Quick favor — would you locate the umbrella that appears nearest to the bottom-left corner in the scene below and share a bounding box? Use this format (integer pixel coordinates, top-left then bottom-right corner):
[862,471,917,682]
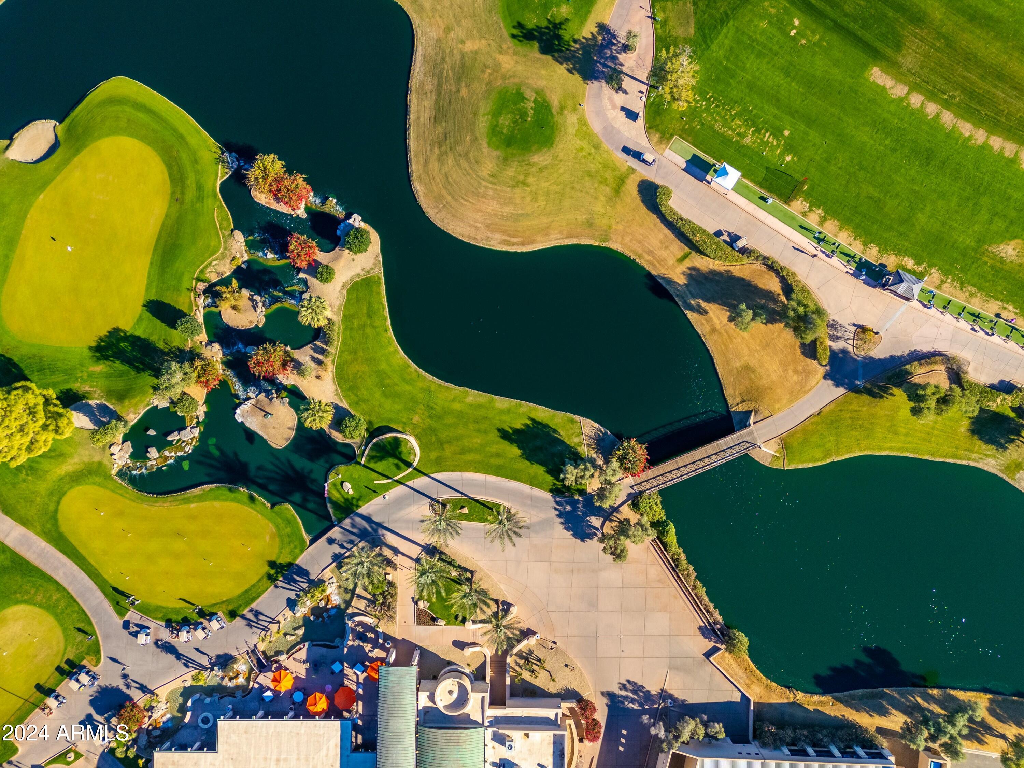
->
[272,669,294,701]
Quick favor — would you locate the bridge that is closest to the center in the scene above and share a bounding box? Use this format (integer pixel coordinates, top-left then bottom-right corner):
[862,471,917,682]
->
[629,423,765,500]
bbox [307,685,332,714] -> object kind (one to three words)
umbrella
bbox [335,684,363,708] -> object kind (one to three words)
umbrella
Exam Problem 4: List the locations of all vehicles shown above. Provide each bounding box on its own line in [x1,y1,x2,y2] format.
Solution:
[47,691,67,709]
[178,625,192,642]
[210,614,226,631]
[196,624,212,641]
[639,152,656,168]
[731,237,748,251]
[78,667,98,685]
[137,628,151,645]
[69,674,89,692]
